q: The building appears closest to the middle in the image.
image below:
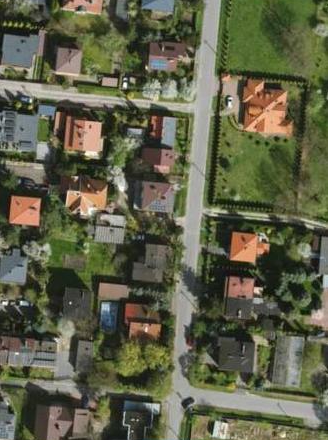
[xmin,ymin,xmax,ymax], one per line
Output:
[141,181,176,216]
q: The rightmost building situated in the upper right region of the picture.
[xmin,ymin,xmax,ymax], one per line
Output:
[240,79,293,138]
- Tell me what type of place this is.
residential area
